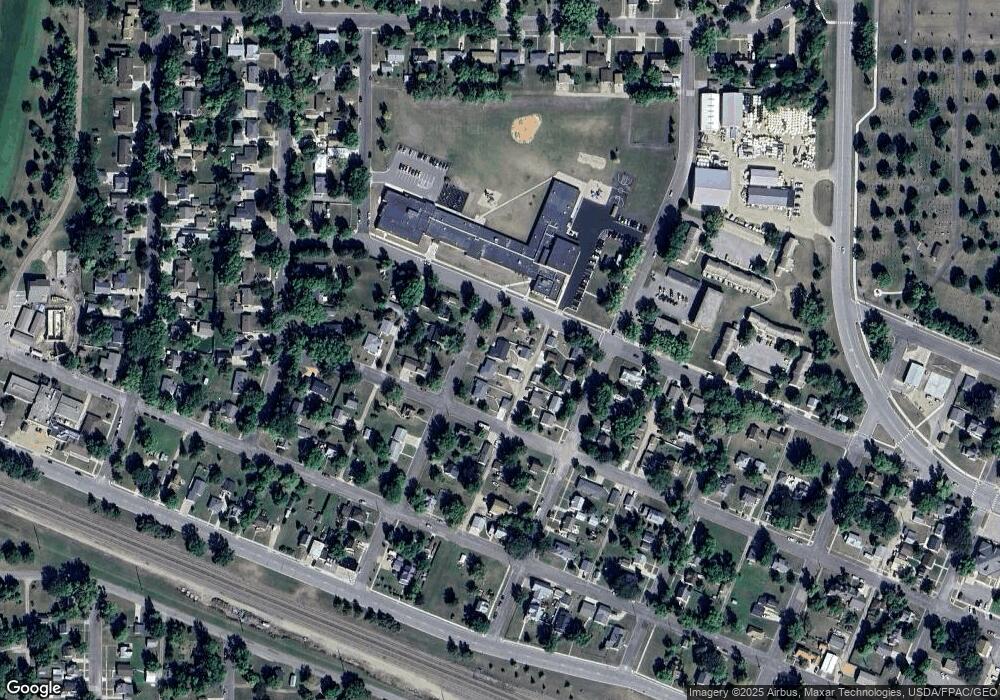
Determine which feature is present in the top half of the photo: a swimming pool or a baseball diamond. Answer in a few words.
baseball diamond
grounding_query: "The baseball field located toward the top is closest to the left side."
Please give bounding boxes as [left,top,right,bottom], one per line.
[511,114,541,144]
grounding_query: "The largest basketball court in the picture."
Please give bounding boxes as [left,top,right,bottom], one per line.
[603,170,635,212]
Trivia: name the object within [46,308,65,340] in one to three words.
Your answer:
shed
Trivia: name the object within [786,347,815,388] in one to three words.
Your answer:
building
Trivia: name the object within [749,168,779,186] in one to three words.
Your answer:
shed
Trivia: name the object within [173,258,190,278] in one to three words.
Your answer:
house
